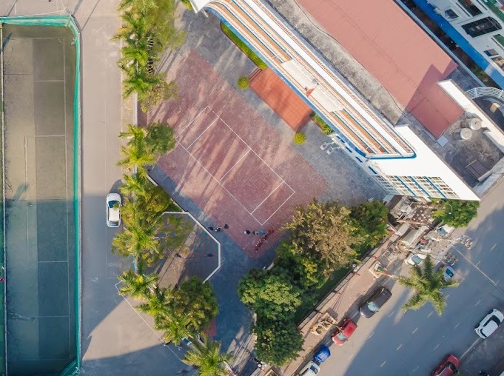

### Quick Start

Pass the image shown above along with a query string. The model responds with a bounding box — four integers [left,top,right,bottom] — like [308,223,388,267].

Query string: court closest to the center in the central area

[148,49,335,258]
